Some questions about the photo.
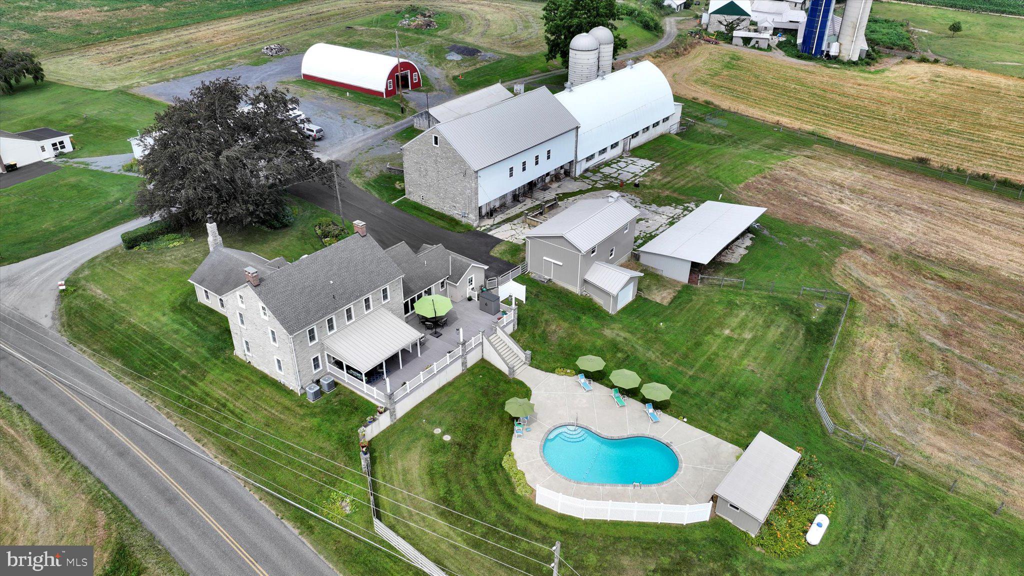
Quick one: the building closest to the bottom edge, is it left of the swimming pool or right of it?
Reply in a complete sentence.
Compared with the swimming pool, the building closest to the bottom edge is located further to the right.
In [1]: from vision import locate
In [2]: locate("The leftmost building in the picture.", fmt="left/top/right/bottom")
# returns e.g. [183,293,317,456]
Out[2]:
[0,112,73,174]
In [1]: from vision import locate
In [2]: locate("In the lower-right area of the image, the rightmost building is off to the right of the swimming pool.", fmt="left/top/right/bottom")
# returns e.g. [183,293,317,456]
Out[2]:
[714,433,804,536]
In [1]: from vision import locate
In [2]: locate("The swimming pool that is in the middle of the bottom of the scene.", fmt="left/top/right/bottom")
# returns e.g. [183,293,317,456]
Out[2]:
[540,421,682,486]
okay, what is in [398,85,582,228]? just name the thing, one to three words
barn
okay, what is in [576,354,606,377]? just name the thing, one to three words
umbrella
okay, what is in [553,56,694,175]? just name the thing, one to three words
barn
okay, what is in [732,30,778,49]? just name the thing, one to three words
shed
